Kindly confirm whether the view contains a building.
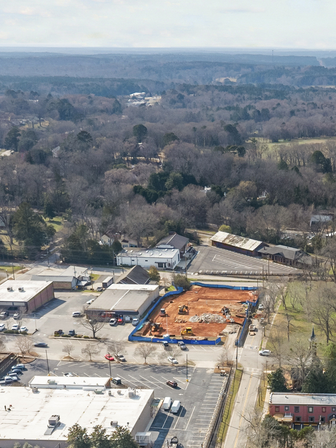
Yes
